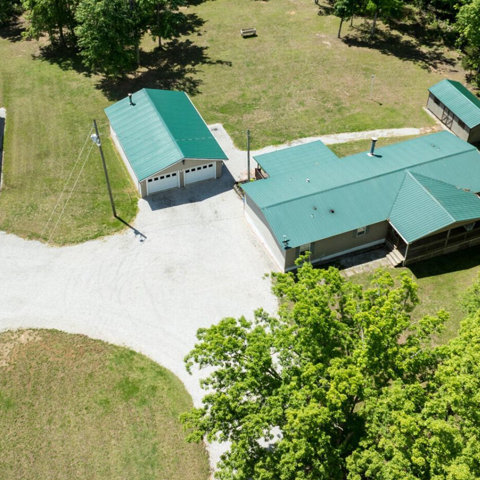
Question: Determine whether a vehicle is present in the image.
No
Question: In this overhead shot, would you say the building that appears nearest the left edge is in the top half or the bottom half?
top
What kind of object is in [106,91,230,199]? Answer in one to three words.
building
